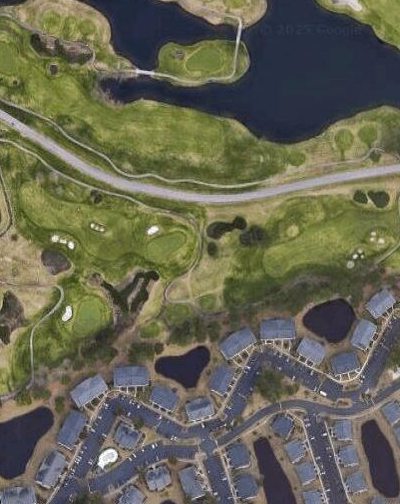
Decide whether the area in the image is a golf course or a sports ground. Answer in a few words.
golf course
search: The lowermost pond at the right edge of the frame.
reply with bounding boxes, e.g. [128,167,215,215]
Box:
[363,419,400,498]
